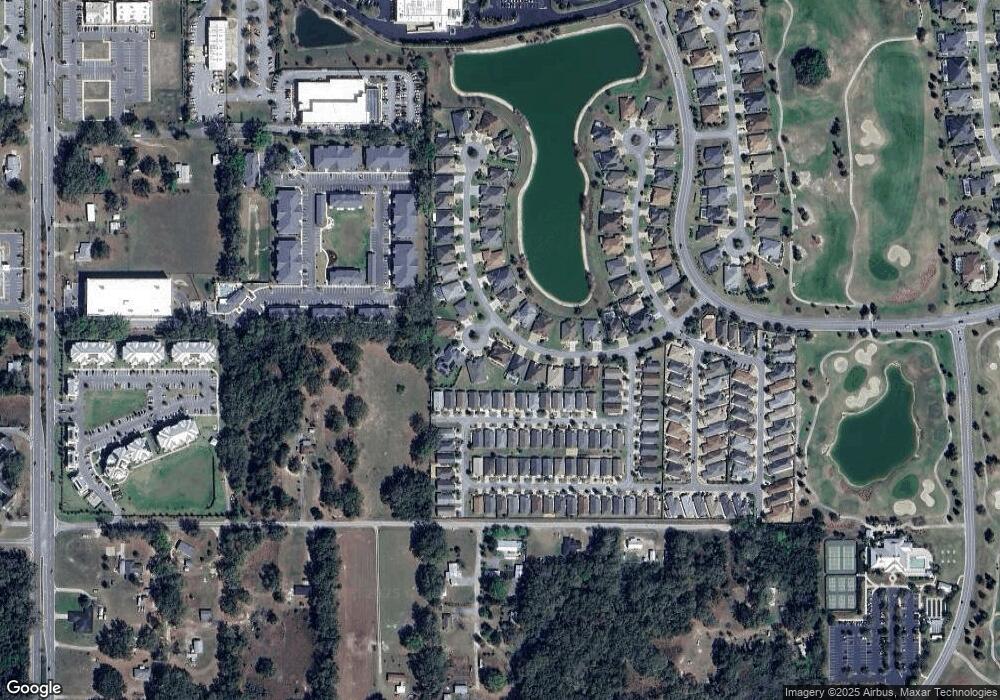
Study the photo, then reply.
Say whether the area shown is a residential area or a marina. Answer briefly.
residential area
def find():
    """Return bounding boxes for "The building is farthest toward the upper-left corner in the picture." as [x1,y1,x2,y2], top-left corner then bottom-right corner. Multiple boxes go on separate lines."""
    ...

[84,1,110,24]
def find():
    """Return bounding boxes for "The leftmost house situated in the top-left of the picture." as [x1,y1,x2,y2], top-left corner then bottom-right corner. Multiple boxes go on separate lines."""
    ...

[4,153,21,179]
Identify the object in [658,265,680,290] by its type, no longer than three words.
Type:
house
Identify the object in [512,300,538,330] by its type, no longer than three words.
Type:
house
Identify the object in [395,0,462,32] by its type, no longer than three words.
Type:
building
